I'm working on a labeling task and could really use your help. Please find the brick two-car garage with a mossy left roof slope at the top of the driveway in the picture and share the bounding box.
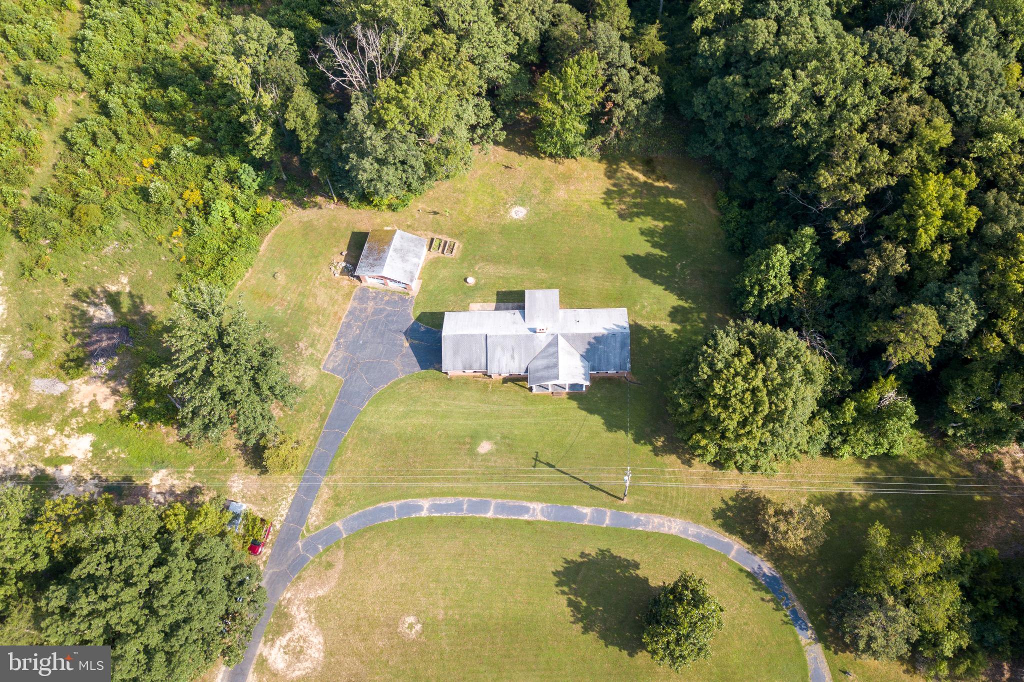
[354,227,428,292]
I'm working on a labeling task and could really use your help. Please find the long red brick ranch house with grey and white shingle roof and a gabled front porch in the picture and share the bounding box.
[441,289,632,400]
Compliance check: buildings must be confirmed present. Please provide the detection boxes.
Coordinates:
[354,227,428,292]
[441,289,632,400]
